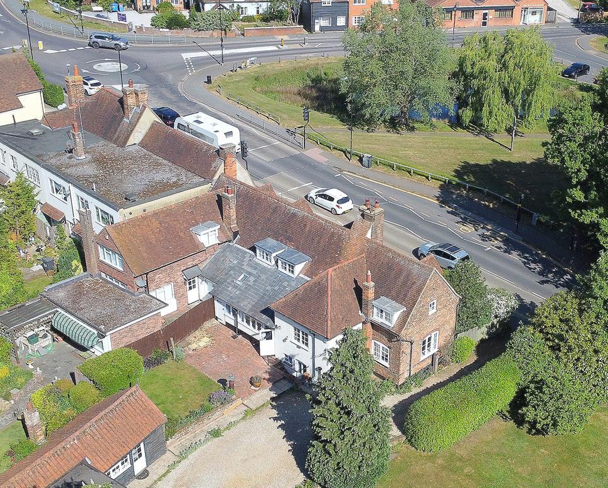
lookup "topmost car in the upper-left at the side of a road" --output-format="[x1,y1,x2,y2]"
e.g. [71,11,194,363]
[87,29,132,49]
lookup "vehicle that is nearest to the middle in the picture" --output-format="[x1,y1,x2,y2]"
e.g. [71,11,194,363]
[303,188,358,214]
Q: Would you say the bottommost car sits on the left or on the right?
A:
right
